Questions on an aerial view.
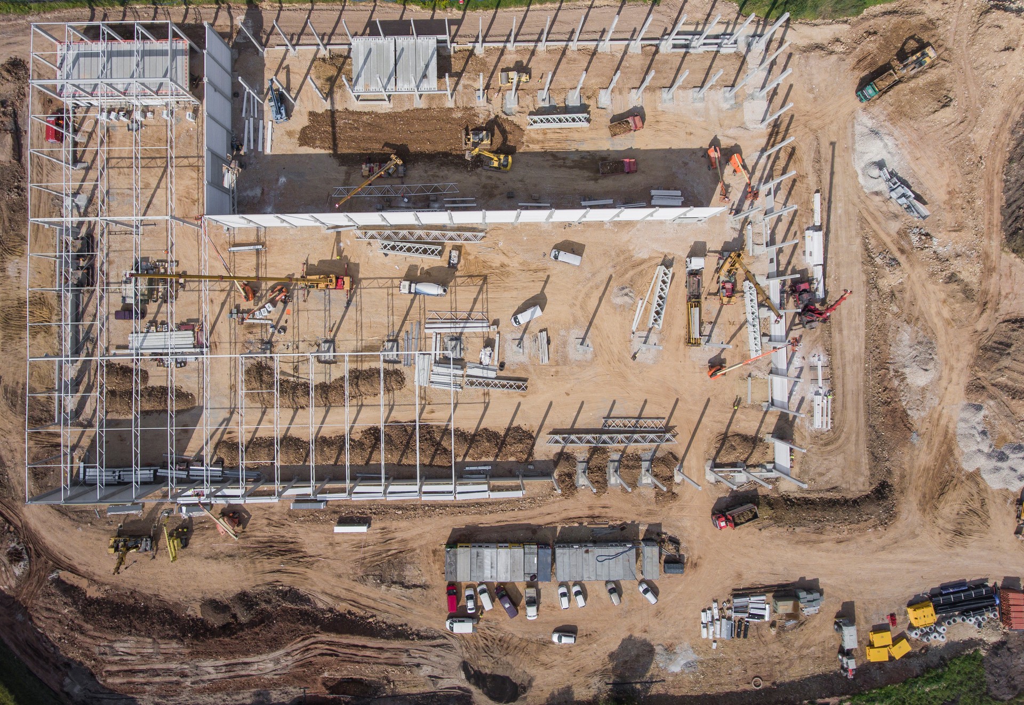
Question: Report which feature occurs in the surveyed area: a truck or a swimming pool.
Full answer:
It is a truck that can be seen here.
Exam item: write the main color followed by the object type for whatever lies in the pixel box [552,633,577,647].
white car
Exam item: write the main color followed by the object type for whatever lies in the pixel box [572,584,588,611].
white car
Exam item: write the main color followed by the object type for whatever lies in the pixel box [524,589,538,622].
white vehicle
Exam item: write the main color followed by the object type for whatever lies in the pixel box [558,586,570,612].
white vehicle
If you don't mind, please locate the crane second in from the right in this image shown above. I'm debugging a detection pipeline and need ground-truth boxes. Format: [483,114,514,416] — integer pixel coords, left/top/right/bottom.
[713,250,783,321]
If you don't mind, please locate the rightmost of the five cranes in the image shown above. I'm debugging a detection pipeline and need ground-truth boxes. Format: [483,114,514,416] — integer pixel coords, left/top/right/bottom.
[795,274,855,325]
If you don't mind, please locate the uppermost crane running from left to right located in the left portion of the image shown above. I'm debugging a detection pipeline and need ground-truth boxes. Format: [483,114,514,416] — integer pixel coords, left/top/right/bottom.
[123,264,353,303]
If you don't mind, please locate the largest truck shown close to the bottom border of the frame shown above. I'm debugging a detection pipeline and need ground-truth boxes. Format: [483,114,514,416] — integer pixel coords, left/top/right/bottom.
[836,622,862,681]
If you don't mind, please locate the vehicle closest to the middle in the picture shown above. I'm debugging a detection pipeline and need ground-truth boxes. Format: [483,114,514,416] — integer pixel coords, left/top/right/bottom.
[511,304,544,327]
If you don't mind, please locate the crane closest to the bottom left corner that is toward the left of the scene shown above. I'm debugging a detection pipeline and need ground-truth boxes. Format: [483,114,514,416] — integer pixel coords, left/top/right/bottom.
[103,528,152,577]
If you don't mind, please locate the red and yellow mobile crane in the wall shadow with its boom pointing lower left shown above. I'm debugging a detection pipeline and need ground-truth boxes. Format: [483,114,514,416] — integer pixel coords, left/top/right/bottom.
[333,150,404,209]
